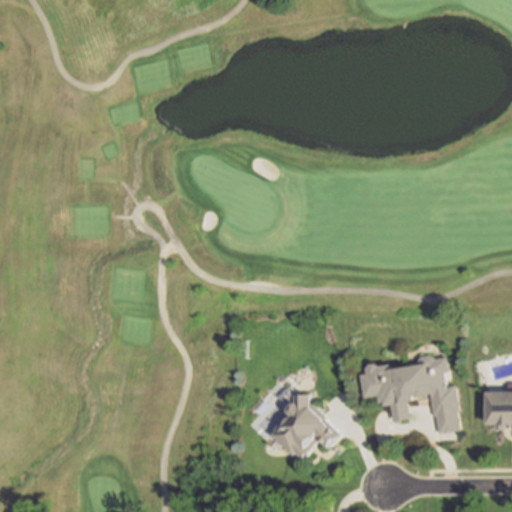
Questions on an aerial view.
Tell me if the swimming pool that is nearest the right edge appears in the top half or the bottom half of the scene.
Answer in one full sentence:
Seen from above, the swimming pool that is nearest the right edge lies in the bottom half of the view.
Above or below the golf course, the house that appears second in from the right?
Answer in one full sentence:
The position of the house that appears second in from the right is below the golf course.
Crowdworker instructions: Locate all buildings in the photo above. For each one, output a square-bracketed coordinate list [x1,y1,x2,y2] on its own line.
[267,392,345,462]
[483,391,512,432]
[359,354,462,434]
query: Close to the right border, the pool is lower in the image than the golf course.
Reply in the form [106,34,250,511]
[476,354,512,389]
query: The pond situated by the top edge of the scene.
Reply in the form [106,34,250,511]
[156,16,512,159]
